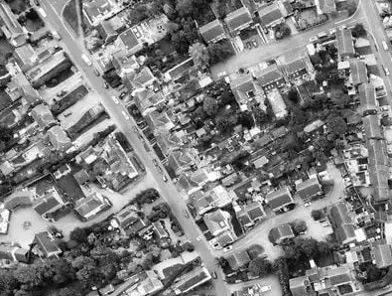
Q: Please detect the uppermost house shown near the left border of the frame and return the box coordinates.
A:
[0,0,30,37]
